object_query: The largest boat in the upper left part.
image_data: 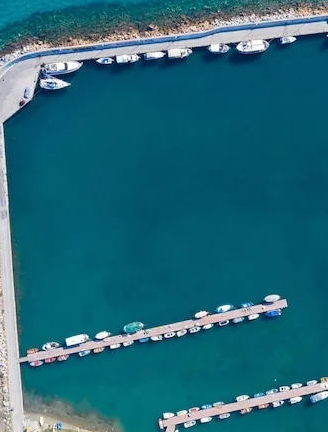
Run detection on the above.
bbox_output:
[39,63,80,76]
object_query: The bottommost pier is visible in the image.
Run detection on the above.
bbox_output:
[162,382,328,432]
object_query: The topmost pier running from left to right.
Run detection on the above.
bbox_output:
[17,299,287,362]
